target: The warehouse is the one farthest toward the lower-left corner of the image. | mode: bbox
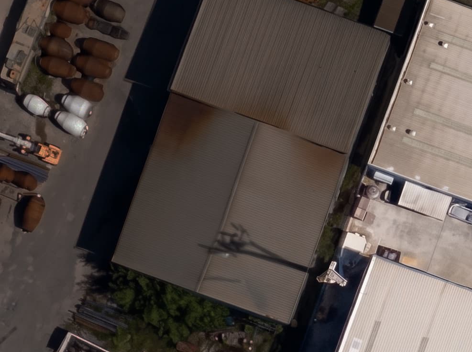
[111,92,352,324]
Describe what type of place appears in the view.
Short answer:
industrial area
